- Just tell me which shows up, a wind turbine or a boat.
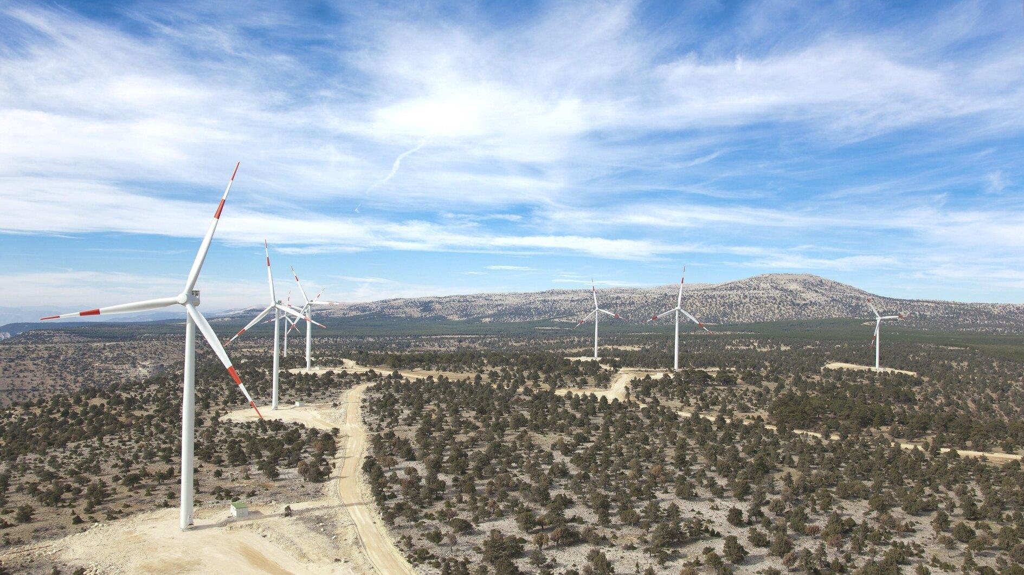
wind turbine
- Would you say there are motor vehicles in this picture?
No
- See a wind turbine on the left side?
Yes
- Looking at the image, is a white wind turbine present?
Yes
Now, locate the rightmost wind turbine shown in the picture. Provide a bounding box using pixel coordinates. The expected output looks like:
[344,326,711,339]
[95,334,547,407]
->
[864,294,903,366]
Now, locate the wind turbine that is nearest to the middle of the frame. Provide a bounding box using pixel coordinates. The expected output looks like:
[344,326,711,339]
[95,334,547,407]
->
[576,281,625,357]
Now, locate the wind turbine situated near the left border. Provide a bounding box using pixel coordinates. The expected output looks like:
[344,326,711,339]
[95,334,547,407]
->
[41,162,261,532]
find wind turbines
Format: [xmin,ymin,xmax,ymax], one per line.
[41,162,261,532]
[864,294,903,366]
[226,239,324,409]
[576,281,625,357]
[285,266,343,371]
[283,289,323,356]
[644,269,709,371]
